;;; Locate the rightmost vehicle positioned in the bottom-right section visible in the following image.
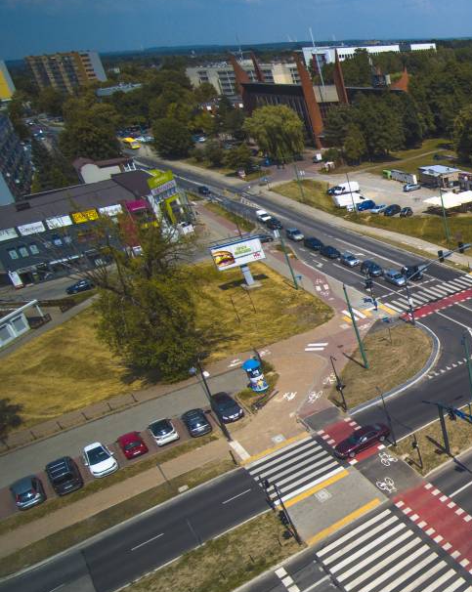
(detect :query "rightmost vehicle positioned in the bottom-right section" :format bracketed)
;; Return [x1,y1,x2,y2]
[333,424,394,459]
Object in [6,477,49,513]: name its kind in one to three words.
car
